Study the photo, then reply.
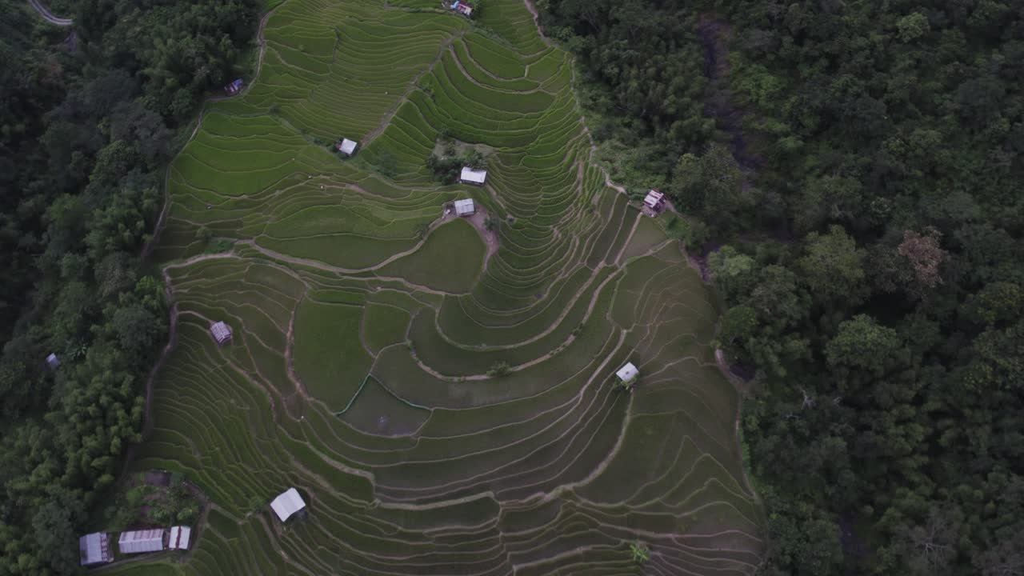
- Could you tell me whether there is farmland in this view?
Yes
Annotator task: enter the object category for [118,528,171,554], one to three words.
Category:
shed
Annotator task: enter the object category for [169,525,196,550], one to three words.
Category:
shed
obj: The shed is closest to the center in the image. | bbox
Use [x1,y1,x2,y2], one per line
[454,199,475,219]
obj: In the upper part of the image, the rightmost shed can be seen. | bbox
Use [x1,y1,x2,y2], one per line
[641,189,669,213]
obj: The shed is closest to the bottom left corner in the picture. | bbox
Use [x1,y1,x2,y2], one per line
[80,528,113,569]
